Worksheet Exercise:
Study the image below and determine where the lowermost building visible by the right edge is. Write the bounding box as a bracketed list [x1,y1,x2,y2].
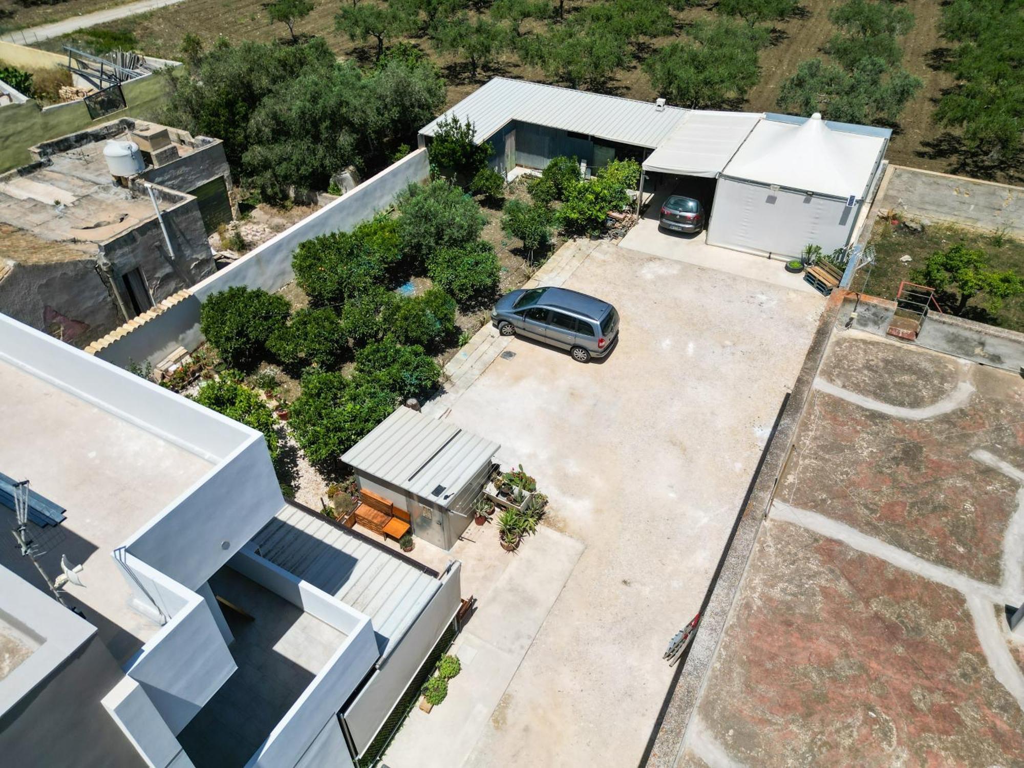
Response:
[644,287,1024,768]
